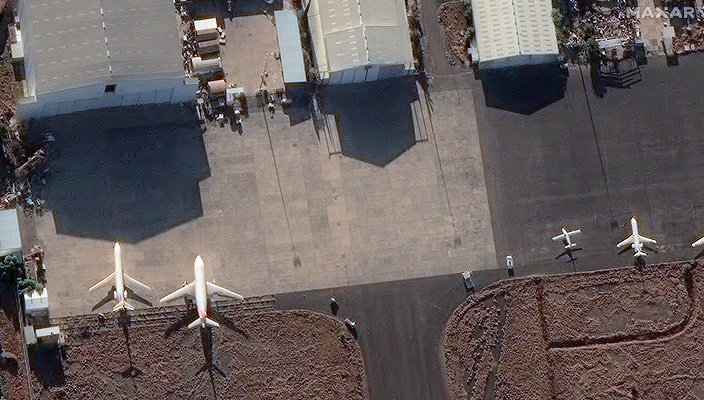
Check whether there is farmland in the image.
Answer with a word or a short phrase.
No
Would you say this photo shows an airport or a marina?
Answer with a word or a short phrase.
airport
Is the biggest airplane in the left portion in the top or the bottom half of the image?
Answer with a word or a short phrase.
bottom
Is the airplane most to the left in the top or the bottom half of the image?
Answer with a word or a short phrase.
bottom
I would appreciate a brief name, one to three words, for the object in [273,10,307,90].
shed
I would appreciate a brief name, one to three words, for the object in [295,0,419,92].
hangar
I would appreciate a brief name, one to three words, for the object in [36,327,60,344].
building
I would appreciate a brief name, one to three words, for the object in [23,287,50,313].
house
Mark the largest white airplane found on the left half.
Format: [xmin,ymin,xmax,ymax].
[160,257,243,329]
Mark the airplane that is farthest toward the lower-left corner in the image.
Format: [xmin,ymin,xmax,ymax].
[91,243,152,309]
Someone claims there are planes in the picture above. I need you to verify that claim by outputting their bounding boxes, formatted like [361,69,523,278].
[618,216,659,255]
[91,243,152,309]
[160,257,243,329]
[693,236,704,245]
[551,226,581,249]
